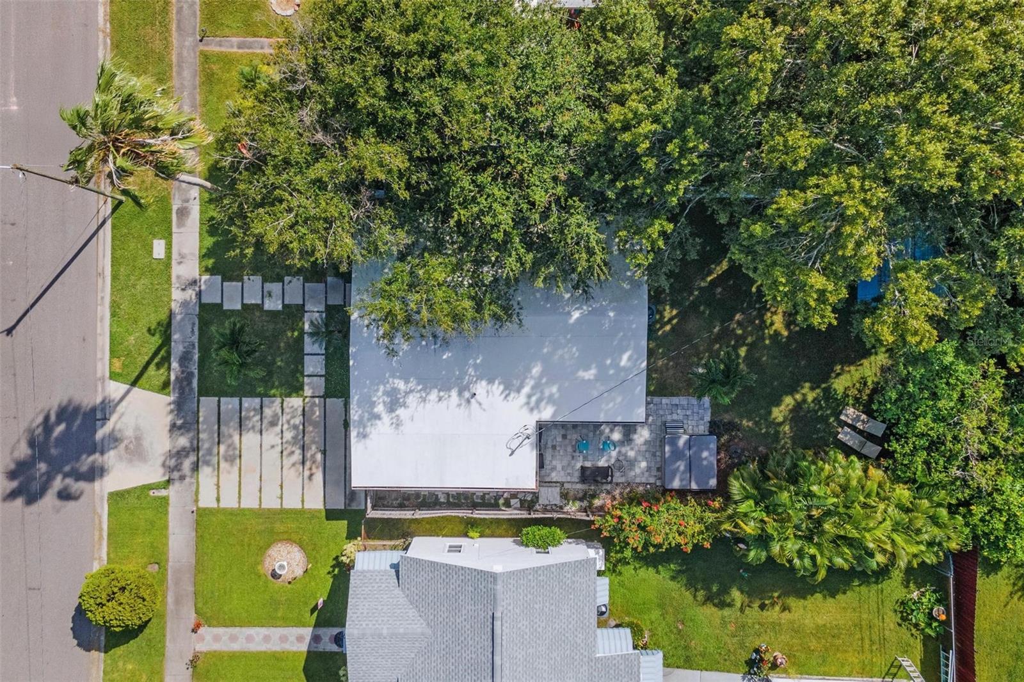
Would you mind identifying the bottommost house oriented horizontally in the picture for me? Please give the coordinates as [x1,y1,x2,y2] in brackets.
[343,532,663,682]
